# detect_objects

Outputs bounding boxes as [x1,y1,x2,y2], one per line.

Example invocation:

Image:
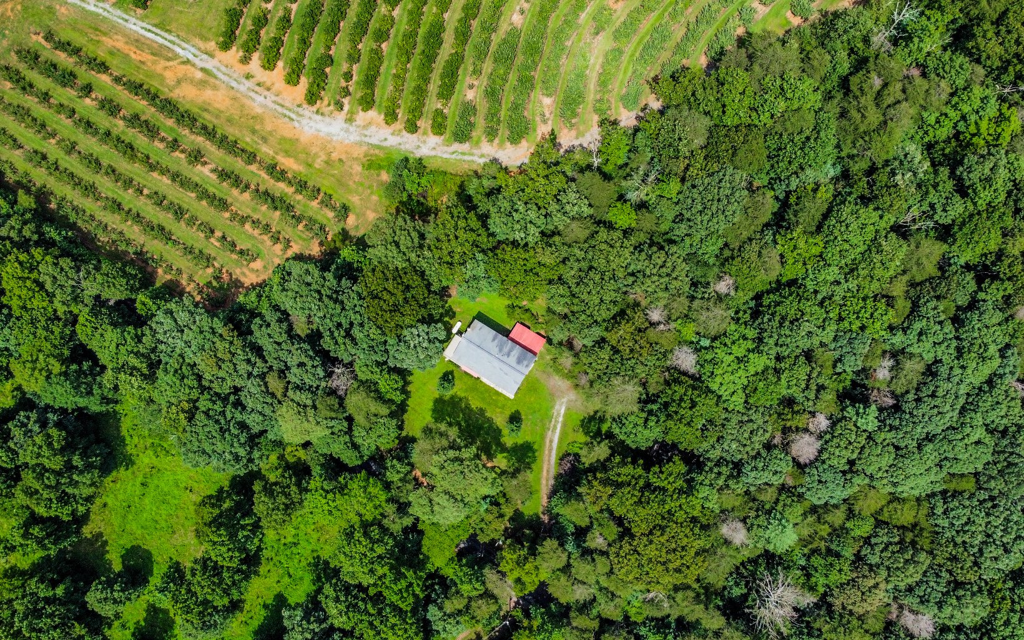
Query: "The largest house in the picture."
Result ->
[444,320,537,399]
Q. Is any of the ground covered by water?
No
